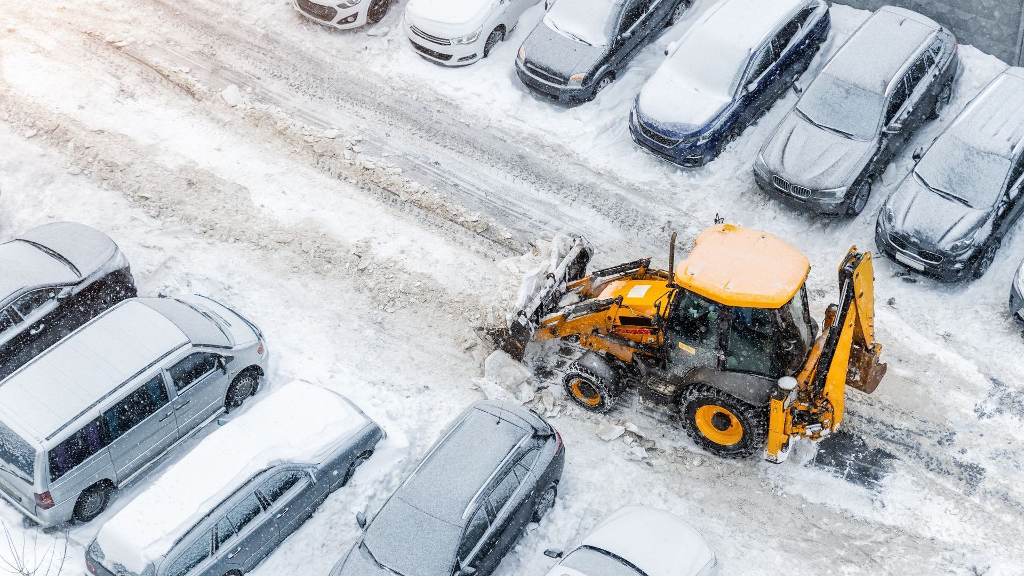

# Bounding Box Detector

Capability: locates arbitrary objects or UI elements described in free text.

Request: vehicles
[474,198,891,486]
[294,0,399,32]
[0,221,140,380]
[534,506,720,576]
[512,0,696,103]
[755,6,963,218]
[0,294,270,531]
[88,375,385,576]
[874,69,1024,280]
[631,0,835,167]
[397,0,538,59]
[1001,241,1024,322]
[327,401,559,576]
